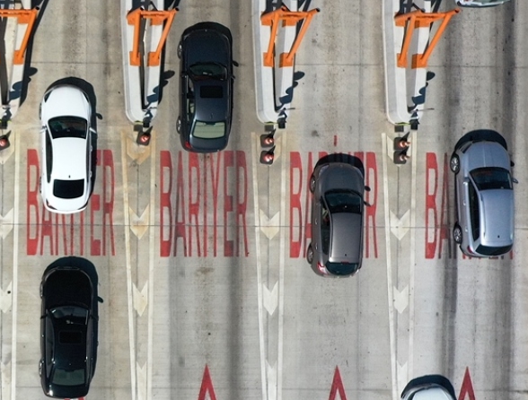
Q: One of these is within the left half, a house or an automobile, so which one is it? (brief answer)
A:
automobile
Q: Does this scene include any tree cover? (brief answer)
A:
No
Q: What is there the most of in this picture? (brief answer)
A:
paved ground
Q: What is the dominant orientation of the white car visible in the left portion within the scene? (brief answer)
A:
vertically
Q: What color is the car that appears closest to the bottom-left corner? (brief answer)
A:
black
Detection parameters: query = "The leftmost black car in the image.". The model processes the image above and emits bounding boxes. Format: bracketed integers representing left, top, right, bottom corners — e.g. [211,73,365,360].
[37,268,99,400]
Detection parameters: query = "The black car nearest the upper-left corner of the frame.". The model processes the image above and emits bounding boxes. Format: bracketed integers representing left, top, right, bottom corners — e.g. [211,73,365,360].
[177,28,239,152]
